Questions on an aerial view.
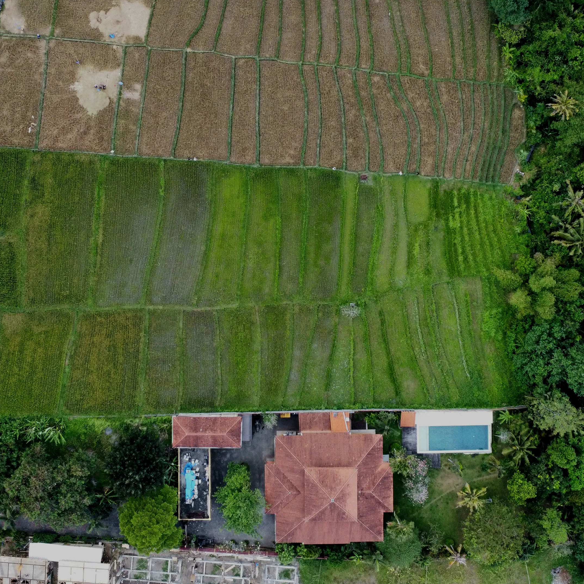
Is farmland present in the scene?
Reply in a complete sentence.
Yes, the picture does contain farmland.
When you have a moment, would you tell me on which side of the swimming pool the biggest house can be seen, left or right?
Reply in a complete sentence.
Relative to the swimming pool, the biggest house lies to the left.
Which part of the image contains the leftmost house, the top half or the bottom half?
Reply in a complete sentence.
Seen from above, the leftmost house lies in the bottom half of the view.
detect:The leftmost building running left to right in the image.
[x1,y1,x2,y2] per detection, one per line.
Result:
[172,416,242,448]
